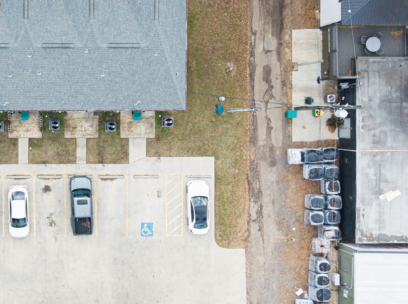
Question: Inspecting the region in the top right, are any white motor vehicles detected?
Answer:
No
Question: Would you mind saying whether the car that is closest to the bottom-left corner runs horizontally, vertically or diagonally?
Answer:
vertically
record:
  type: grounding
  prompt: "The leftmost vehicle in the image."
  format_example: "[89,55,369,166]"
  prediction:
[7,186,30,238]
